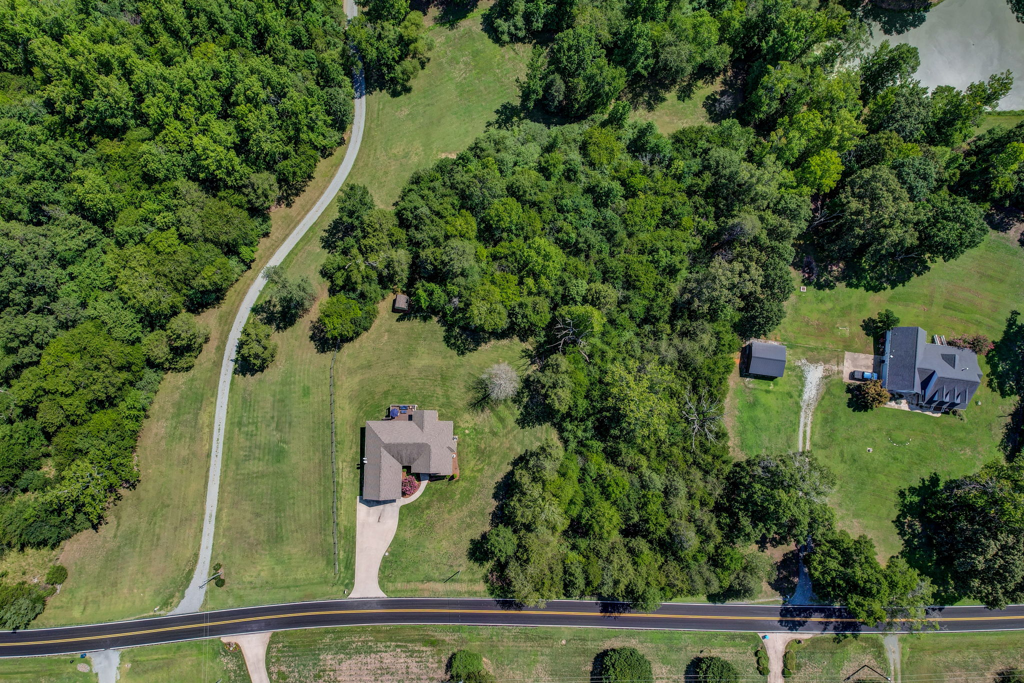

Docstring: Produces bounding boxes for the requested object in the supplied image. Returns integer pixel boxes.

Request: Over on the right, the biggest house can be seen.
[881,327,983,410]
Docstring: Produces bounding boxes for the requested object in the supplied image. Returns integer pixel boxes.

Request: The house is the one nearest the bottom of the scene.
[364,410,456,500]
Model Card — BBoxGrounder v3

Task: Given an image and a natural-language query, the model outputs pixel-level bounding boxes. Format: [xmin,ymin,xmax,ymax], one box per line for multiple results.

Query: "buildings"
[364,410,456,500]
[747,342,786,377]
[395,294,411,311]
[881,327,983,410]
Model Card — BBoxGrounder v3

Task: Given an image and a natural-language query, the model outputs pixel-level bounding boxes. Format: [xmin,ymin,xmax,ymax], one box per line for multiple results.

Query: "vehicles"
[851,370,878,382]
